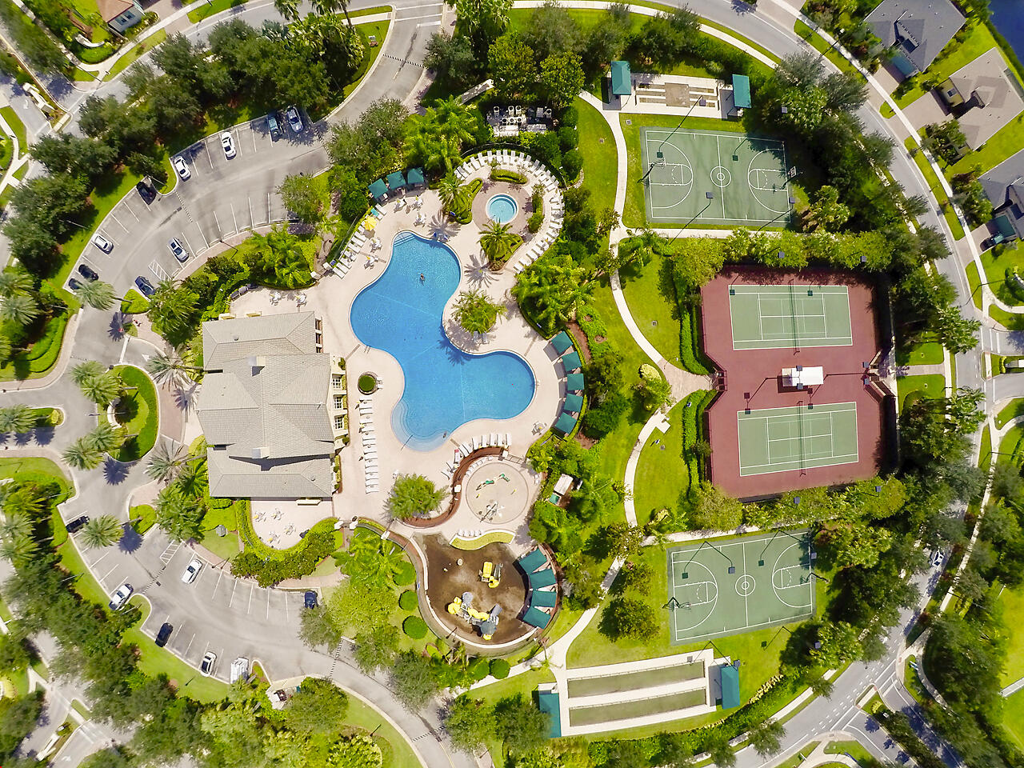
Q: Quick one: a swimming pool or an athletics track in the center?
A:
swimming pool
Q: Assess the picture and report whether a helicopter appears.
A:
No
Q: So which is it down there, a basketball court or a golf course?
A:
basketball court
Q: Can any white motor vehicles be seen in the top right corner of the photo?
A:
No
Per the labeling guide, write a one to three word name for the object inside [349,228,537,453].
swimming pool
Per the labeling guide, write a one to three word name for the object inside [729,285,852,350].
tennis court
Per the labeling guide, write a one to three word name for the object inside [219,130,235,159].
car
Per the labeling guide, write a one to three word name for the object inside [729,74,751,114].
building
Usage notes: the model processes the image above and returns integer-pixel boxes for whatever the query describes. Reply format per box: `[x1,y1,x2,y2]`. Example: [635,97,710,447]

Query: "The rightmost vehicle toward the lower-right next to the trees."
[930,545,949,572]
